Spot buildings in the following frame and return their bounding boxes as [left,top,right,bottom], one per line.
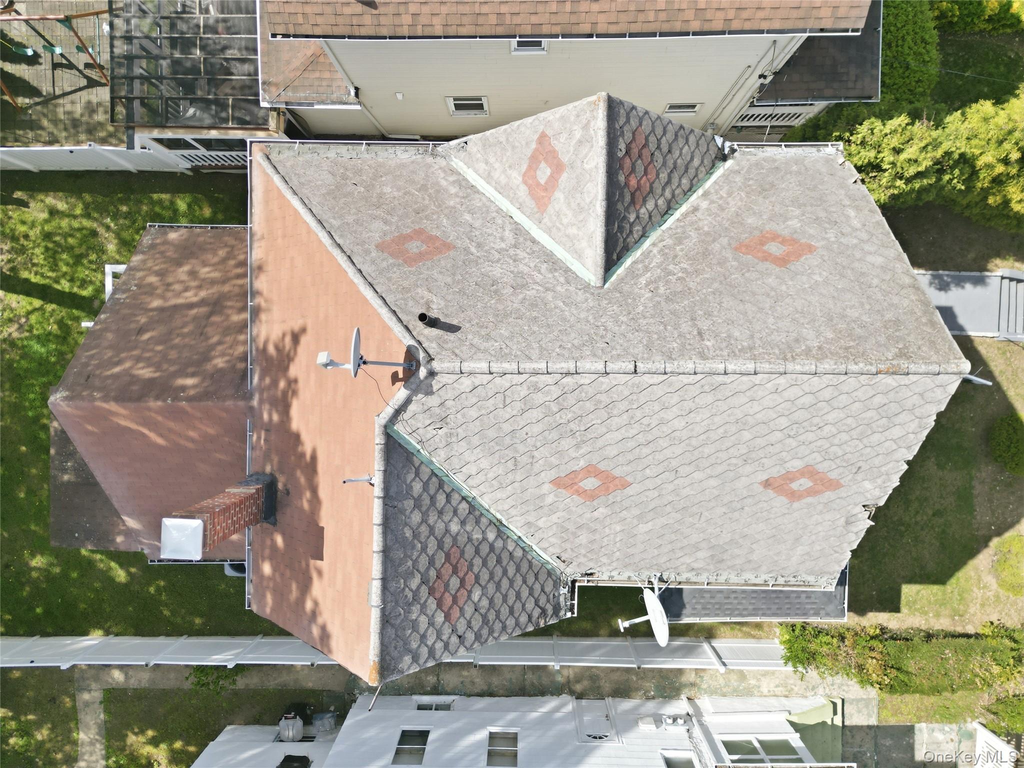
[189,694,853,768]
[49,89,973,686]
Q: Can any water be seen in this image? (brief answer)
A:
No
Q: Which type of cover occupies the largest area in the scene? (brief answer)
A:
buildings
